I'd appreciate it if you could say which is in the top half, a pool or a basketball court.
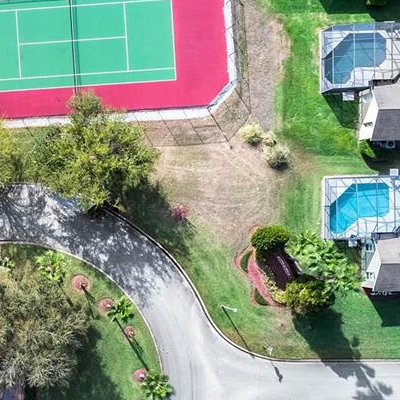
pool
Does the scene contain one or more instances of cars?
No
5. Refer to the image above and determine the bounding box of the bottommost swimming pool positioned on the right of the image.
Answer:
[323,176,400,241]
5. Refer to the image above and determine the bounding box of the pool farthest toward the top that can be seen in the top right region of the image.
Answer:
[319,25,399,95]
